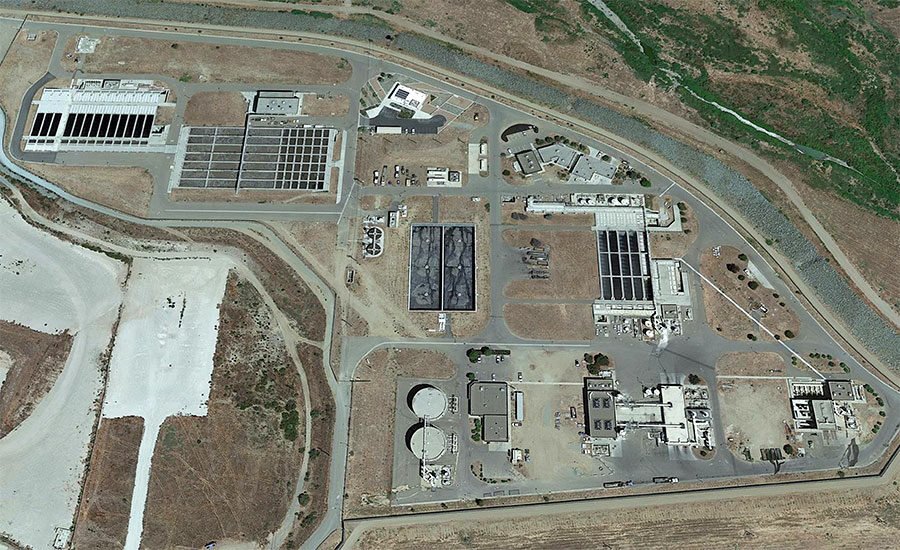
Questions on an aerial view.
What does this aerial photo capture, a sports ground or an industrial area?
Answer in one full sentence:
The area seen from above is an industrial area.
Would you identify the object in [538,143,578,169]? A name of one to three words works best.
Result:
building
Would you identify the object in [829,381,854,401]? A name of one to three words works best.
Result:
building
